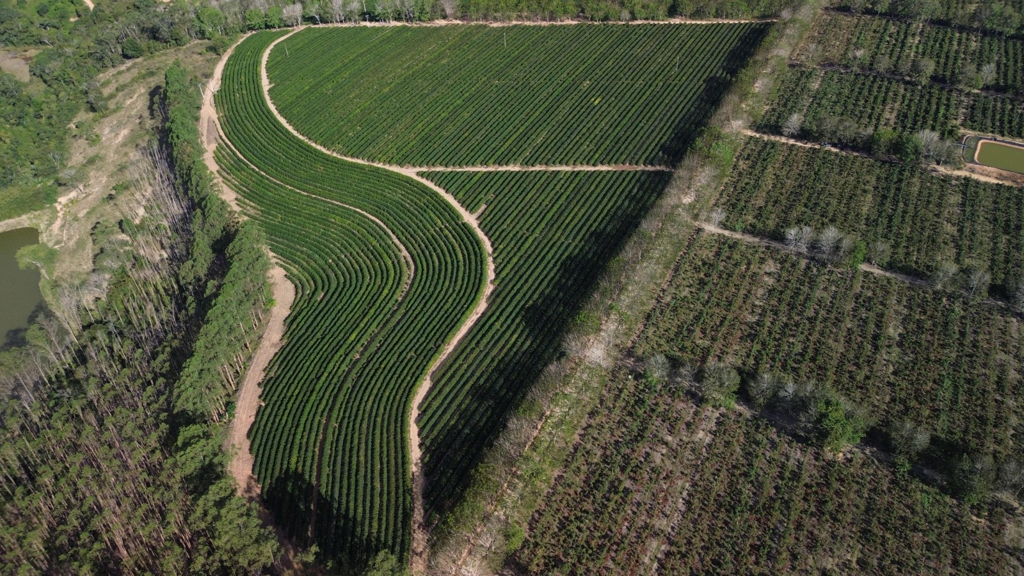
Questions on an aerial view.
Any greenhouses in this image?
No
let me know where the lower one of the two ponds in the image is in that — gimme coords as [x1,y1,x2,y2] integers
[0,232,58,357]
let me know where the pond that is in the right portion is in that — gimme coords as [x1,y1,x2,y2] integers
[959,133,1024,183]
